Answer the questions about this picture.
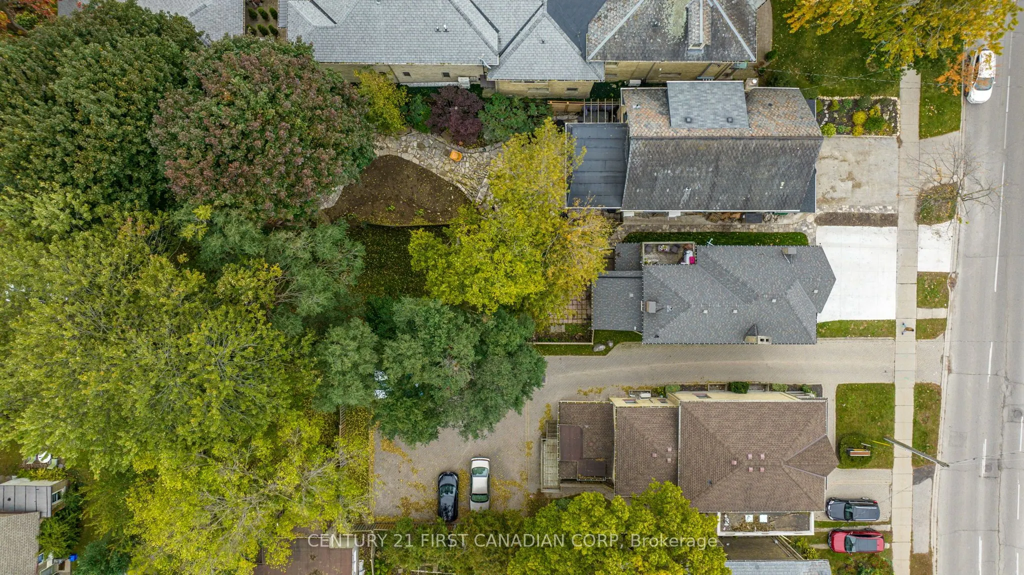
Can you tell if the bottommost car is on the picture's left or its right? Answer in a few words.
right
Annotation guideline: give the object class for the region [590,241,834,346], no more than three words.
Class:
house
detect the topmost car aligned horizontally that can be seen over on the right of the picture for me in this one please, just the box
[824,495,881,523]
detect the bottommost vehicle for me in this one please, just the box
[826,526,885,556]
